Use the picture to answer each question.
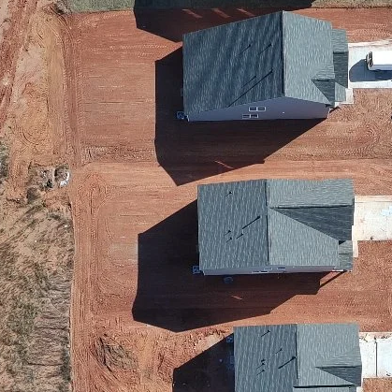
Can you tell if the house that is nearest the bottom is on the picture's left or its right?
right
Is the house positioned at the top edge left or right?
right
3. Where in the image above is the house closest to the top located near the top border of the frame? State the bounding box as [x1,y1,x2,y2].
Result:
[182,11,348,122]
